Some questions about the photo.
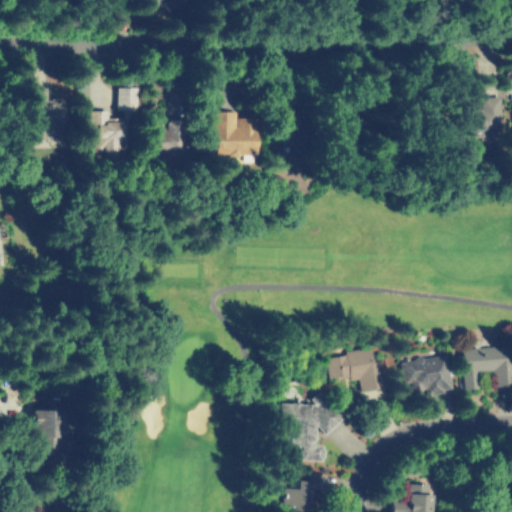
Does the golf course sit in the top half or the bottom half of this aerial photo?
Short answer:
bottom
